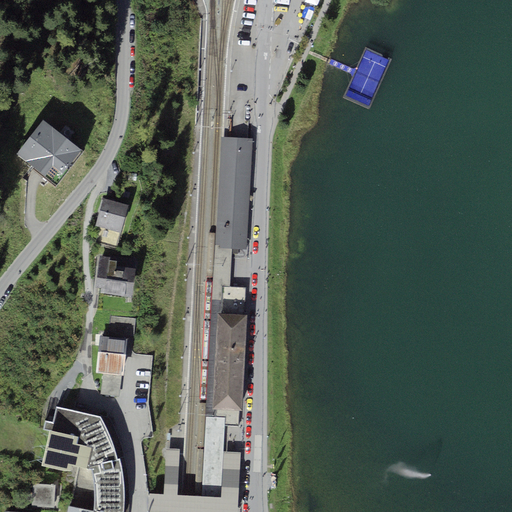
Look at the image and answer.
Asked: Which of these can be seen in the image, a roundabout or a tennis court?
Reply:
tennis court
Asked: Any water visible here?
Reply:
Yes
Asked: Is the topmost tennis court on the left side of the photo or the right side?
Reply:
right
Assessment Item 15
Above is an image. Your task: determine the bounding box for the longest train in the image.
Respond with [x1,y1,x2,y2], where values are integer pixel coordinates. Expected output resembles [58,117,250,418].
[200,279,212,401]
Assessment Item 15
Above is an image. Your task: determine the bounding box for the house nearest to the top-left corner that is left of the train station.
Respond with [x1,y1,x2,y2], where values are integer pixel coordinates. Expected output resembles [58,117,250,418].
[17,120,82,184]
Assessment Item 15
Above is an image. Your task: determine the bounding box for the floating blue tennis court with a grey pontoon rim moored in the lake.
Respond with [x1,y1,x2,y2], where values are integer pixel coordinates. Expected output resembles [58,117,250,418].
[343,47,392,108]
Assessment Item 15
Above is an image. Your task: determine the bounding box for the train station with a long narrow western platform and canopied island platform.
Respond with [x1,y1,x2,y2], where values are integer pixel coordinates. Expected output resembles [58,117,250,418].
[170,0,240,462]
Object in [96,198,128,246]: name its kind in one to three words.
house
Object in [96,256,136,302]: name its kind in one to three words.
house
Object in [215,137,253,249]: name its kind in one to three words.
shed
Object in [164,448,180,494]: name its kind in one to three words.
building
